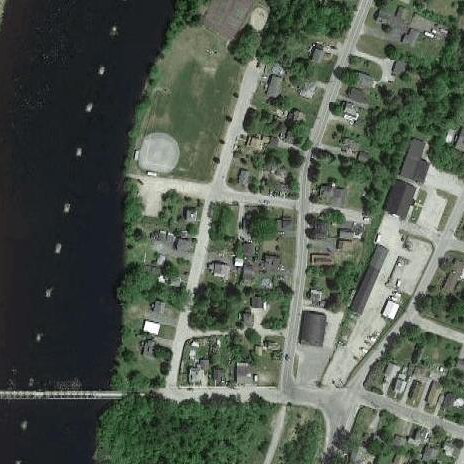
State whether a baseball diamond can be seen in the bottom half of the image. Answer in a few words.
No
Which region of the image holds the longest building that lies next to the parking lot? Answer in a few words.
right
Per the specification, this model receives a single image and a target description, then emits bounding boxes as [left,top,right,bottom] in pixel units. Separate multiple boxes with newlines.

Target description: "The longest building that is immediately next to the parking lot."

[351,246,389,315]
